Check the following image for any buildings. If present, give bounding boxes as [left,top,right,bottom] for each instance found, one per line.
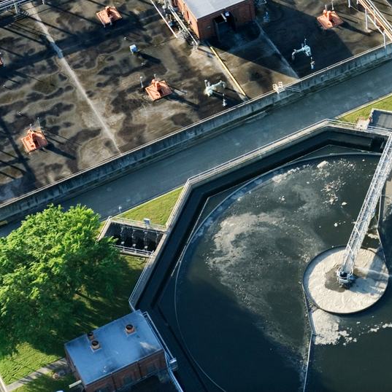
[174,0,253,40]
[63,311,163,392]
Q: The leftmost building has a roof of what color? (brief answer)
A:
blue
